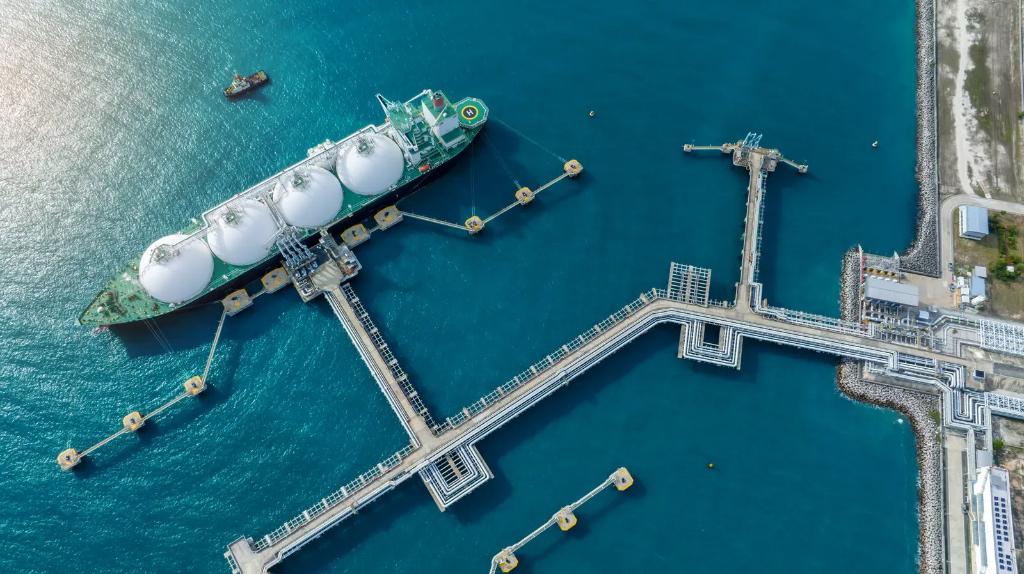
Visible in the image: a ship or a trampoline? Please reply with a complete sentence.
The image shows a ship.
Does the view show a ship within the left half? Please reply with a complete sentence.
Yes, a ship shows up within the left half.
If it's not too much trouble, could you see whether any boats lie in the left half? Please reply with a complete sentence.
Yes, there is a boat in the left half.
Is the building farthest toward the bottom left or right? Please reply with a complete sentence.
The building farthest toward the bottom sits on the right side.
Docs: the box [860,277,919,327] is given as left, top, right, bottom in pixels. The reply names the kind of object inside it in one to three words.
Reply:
building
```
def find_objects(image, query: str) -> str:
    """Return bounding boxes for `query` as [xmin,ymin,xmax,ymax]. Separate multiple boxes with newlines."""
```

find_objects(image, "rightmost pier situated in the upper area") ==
[729,141,779,182]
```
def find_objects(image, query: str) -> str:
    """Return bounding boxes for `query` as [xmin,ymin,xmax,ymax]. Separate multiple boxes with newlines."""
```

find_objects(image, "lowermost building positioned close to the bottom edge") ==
[971,467,1019,574]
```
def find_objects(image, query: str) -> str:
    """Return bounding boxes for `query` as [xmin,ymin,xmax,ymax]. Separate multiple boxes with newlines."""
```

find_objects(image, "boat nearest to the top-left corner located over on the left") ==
[223,70,270,95]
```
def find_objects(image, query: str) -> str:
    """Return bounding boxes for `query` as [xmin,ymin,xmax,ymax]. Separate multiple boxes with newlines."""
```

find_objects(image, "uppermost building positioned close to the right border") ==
[959,205,989,240]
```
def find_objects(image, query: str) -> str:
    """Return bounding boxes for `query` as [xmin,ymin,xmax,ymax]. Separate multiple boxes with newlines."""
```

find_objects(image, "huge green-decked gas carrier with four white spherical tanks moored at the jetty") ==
[75,86,487,328]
